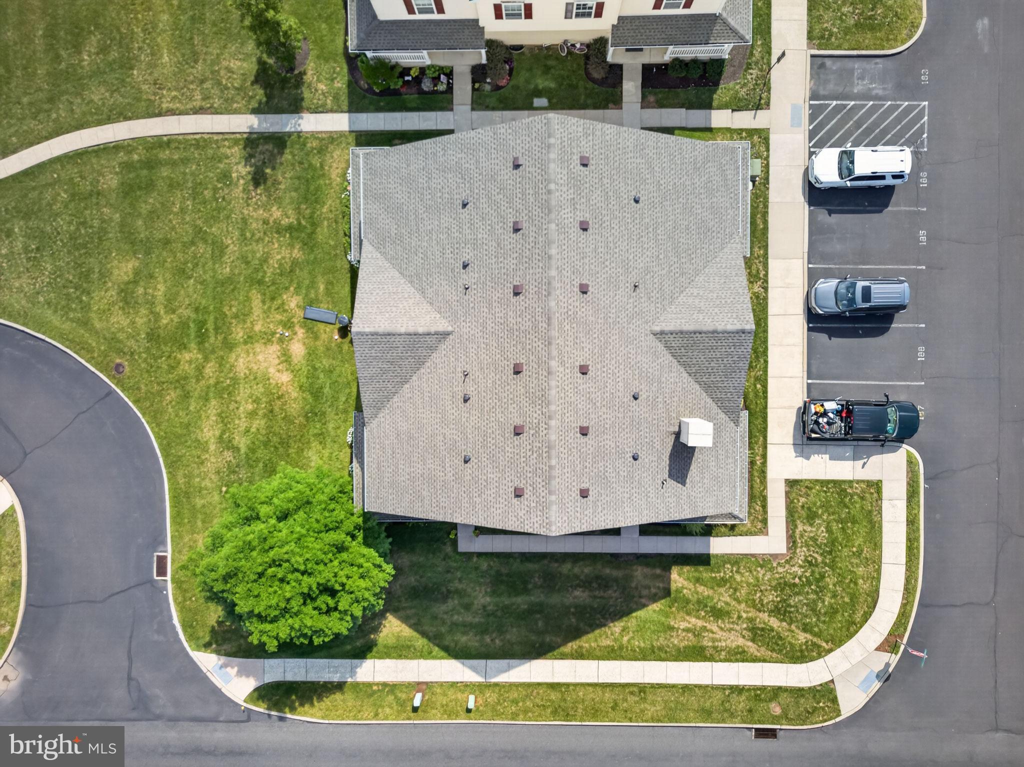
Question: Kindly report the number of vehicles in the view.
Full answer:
I count 3 vehicles.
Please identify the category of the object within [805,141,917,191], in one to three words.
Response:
car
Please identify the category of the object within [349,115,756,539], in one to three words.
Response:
house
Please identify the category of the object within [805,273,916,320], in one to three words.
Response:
car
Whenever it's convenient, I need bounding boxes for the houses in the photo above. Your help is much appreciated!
[349,115,756,539]
[349,0,752,68]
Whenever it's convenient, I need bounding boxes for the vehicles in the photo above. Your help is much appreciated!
[797,394,919,448]
[805,141,917,191]
[805,273,916,320]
